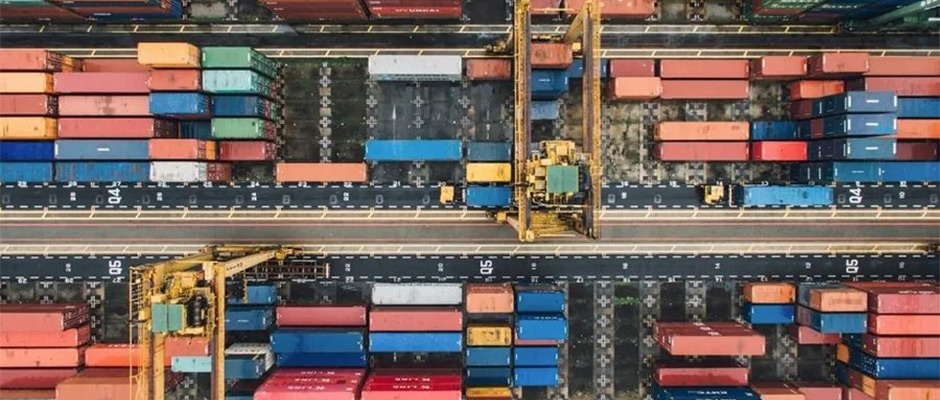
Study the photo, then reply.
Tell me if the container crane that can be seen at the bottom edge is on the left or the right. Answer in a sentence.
You can find the container crane that can be seen at the bottom edge on the left side of the picture.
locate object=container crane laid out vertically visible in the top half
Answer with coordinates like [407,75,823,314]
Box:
[490,0,602,245]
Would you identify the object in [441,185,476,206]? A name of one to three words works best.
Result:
truck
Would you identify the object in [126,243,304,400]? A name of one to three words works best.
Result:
container crane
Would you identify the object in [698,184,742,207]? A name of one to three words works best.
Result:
truck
